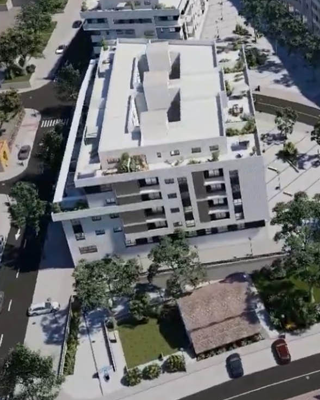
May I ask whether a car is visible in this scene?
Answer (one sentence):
Yes, looking at the shot, I can spot a car.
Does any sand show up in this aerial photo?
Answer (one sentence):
No, the scene doesn't show any sand.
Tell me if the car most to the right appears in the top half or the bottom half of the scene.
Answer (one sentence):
Seen from above, the car most to the right lies in the bottom half of the view.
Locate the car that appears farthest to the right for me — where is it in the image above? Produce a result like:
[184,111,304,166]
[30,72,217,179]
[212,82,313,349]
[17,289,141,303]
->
[271,337,294,363]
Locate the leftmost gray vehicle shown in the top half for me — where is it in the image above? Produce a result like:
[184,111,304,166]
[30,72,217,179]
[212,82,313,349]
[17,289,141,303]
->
[16,145,33,159]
